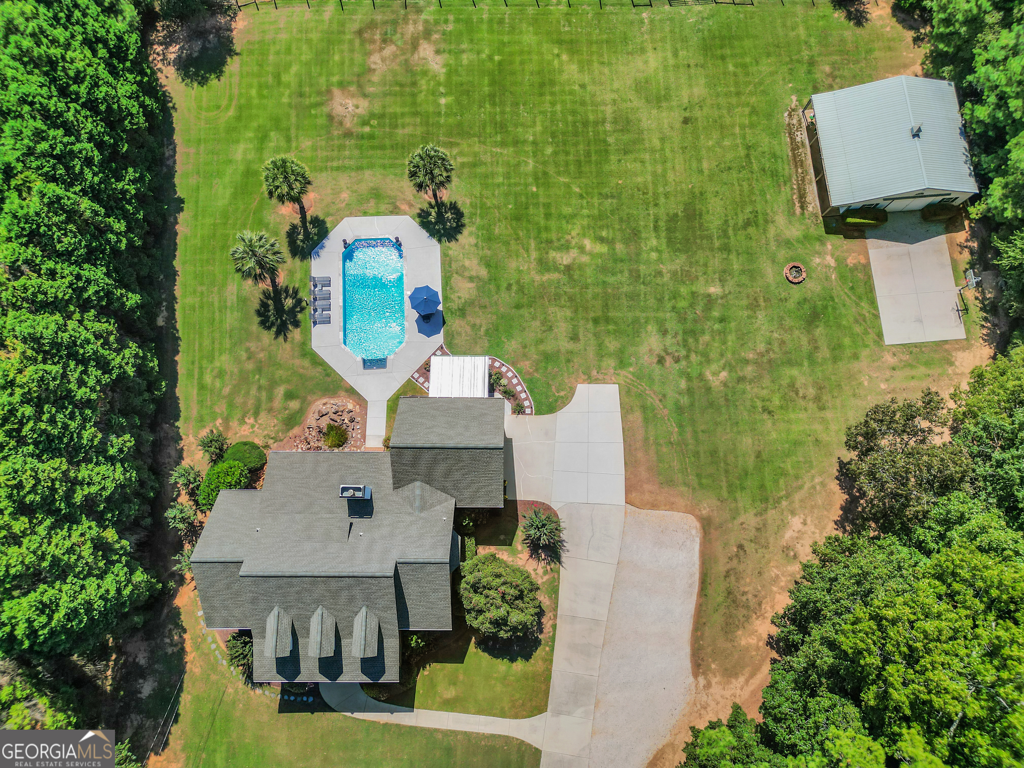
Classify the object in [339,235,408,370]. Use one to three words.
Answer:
swimming pool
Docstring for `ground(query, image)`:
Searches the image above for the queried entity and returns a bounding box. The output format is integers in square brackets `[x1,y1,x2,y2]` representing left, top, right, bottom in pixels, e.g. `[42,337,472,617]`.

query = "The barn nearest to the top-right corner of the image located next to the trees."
[802,75,978,216]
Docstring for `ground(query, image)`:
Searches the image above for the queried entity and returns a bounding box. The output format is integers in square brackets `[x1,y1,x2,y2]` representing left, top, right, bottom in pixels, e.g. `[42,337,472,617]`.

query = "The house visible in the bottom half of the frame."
[189,396,505,684]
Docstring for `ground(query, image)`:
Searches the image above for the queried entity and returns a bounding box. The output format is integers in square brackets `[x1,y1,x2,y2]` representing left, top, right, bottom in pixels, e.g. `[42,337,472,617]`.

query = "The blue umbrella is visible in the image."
[409,285,441,315]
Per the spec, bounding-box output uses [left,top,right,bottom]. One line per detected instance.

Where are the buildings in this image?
[189,396,505,684]
[802,75,978,216]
